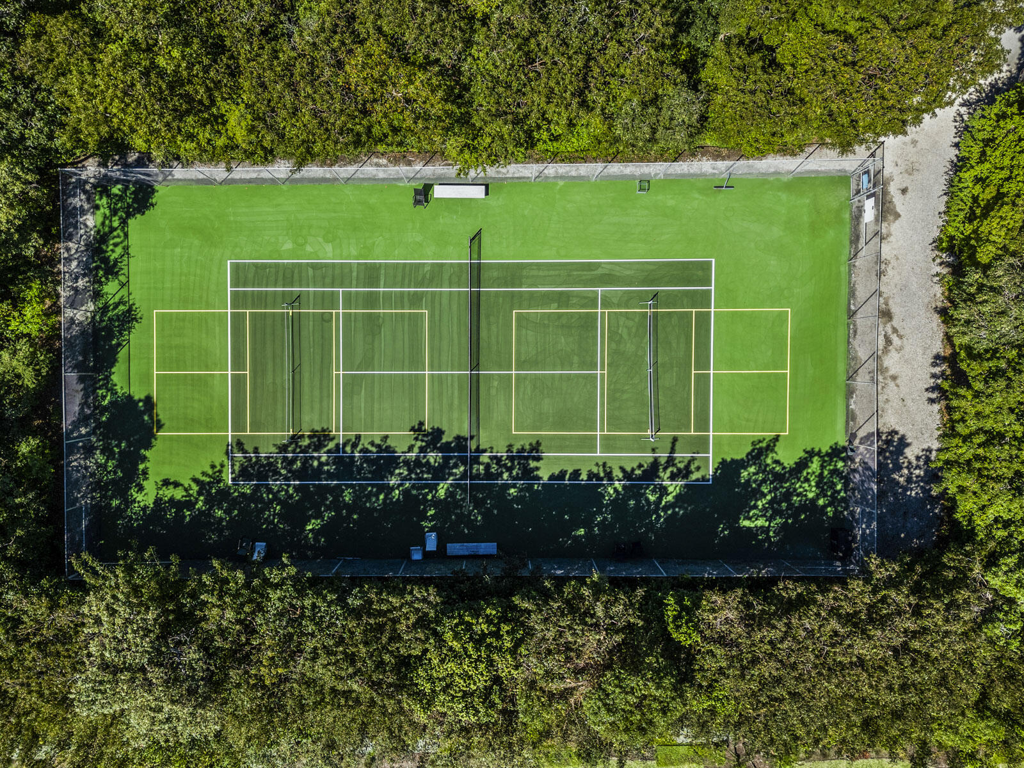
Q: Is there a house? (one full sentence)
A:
No, no house is visible in the scene.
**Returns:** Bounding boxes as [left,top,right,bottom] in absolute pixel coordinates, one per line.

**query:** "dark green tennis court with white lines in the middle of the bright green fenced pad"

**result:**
[93,170,851,561]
